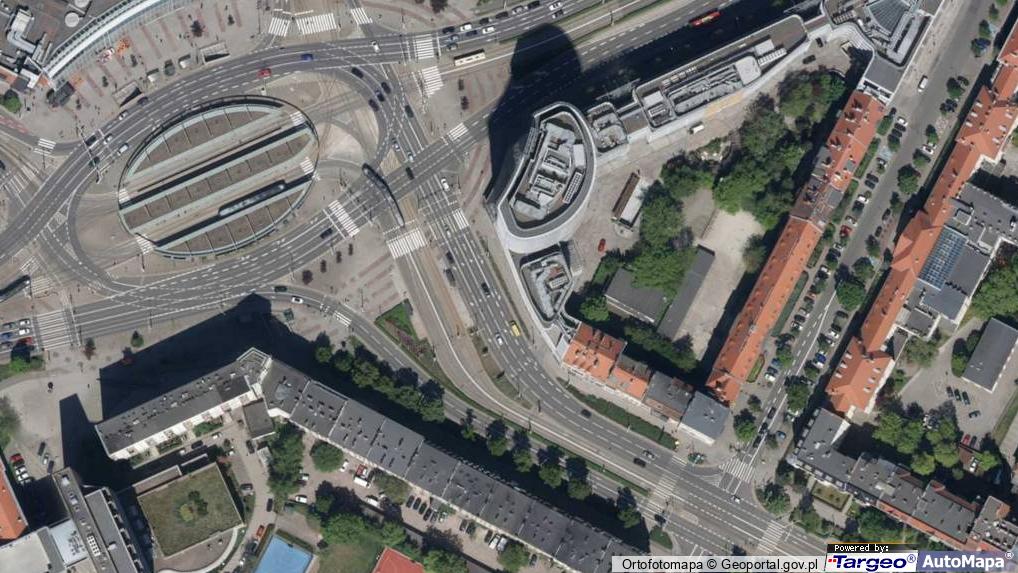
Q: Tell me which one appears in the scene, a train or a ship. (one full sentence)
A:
There is a train in the scene.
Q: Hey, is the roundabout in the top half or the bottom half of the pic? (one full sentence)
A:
The roundabout is in the top half of the image.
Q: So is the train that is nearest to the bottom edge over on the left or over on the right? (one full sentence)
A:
The train that is nearest to the bottom edge appears in the left half of the scene.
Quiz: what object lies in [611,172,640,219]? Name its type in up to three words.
shed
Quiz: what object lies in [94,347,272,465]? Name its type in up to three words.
building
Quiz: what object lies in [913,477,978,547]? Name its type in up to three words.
house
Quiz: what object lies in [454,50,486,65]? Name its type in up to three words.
vehicle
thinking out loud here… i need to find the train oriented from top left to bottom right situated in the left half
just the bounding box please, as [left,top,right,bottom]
[363,164,406,227]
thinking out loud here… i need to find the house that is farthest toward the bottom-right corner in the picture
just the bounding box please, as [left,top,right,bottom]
[963,497,1018,569]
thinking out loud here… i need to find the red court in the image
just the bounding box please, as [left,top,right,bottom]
[375,547,425,573]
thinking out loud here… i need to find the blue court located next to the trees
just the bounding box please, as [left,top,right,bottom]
[256,535,313,573]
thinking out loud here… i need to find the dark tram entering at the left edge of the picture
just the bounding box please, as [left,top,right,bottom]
[0,277,31,300]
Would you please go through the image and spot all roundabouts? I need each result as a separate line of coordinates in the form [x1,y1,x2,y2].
[0,32,437,358]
